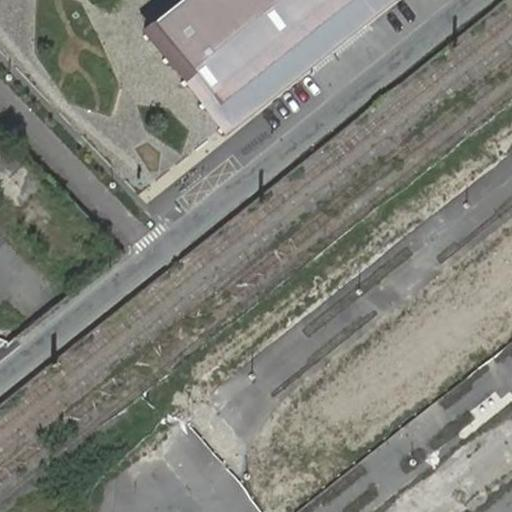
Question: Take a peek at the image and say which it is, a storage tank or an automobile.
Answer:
automobile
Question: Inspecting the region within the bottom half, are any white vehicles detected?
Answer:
No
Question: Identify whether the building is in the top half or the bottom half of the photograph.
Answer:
top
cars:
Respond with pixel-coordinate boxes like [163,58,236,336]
[274,98,290,120]
[263,108,280,130]
[294,84,310,104]
[386,12,403,32]
[284,92,300,113]
[304,76,320,98]
[397,0,416,24]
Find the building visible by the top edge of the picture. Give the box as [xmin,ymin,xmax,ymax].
[144,0,399,132]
